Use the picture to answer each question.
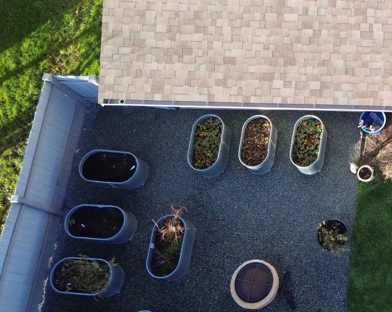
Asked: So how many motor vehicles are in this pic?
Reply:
none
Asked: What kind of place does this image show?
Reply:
industrial area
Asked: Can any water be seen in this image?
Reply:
No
